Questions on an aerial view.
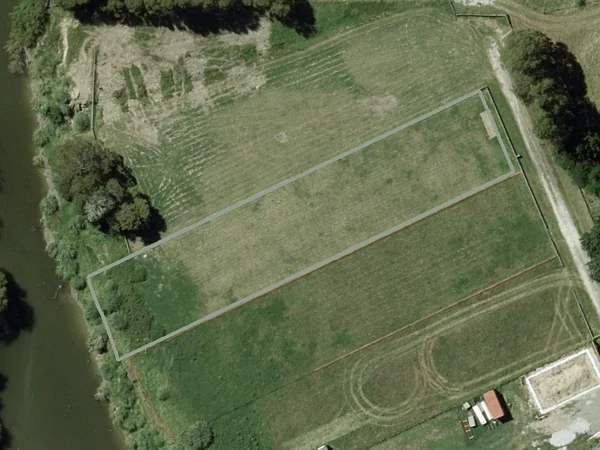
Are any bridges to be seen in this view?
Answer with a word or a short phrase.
No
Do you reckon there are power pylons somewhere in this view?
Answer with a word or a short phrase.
No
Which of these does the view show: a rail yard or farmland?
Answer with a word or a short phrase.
farmland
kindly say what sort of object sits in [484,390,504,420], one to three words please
shed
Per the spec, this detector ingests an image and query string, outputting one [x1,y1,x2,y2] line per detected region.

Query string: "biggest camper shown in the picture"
[473,403,486,425]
